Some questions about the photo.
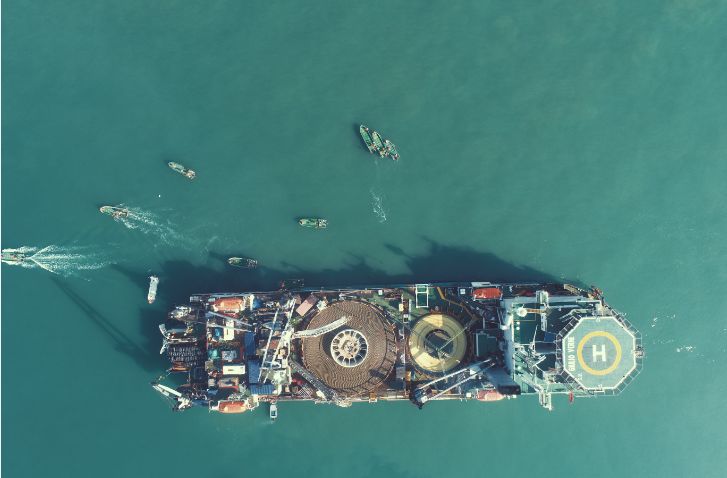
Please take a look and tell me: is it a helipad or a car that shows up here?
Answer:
helipad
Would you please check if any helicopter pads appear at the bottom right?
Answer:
Yes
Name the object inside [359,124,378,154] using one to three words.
boat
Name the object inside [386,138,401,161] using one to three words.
boat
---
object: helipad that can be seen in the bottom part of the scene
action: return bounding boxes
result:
[555,309,645,397]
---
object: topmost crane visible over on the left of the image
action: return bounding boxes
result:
[258,298,300,385]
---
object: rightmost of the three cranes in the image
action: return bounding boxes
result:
[410,352,504,406]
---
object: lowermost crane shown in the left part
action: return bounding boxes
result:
[150,374,196,413]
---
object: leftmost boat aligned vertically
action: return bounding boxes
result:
[144,276,158,305]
